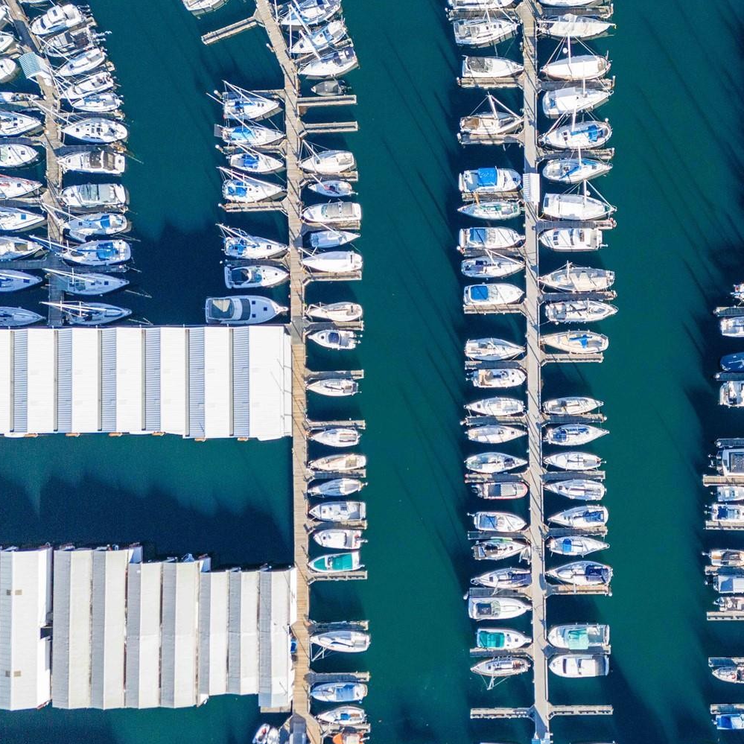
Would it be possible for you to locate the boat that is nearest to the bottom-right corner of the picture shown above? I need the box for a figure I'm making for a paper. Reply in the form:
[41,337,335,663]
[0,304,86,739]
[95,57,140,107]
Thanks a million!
[710,711,744,731]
